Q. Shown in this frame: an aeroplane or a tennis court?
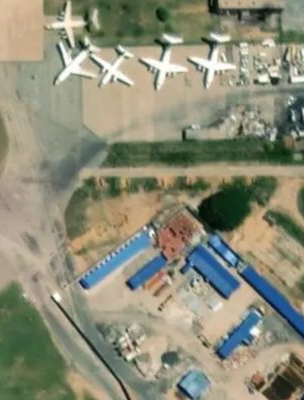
aeroplane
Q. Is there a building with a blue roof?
Yes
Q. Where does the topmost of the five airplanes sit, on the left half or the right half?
left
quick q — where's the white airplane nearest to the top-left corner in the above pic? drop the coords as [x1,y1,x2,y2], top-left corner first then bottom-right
[45,1,94,48]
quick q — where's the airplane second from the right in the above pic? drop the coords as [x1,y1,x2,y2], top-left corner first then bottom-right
[141,28,190,89]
